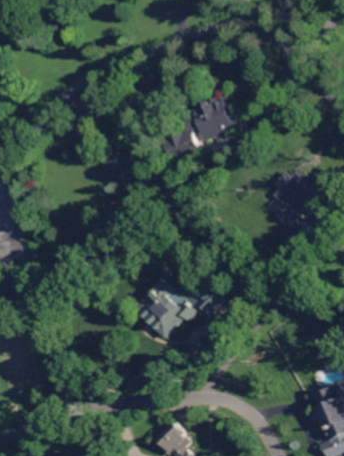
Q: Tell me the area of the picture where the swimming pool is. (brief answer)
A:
bottom right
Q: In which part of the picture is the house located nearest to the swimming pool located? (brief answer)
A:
bottom right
